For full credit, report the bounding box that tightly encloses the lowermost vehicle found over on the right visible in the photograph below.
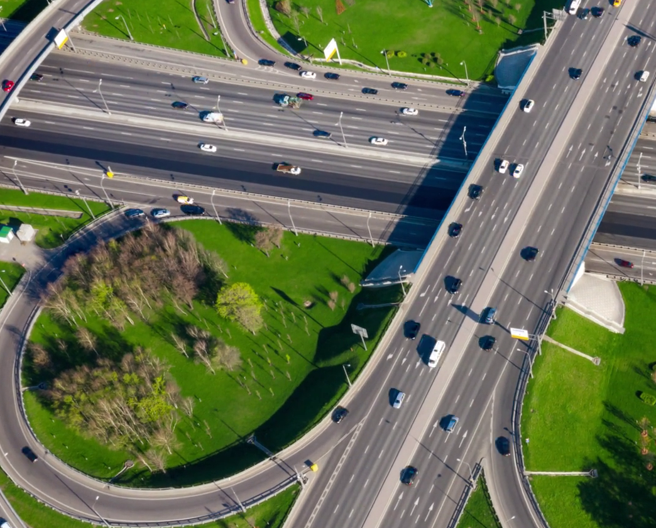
[403,467,417,486]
